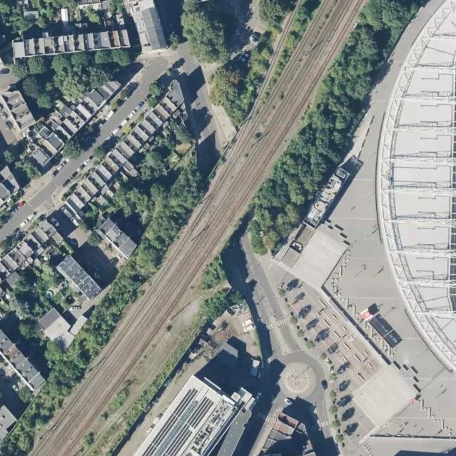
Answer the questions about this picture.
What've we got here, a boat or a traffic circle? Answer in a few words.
traffic circle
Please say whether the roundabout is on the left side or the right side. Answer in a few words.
right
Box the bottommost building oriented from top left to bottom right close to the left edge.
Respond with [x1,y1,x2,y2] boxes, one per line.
[0,338,43,394]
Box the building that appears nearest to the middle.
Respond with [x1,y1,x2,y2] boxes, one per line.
[280,226,314,268]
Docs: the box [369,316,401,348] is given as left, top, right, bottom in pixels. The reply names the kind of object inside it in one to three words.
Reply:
building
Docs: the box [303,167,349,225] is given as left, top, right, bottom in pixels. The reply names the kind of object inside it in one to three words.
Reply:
building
